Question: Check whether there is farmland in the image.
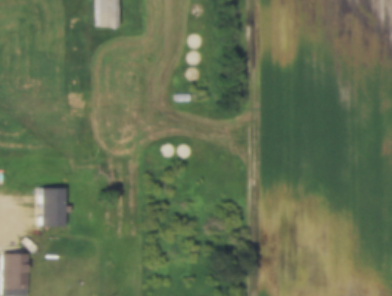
Yes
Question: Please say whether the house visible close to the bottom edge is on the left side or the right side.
left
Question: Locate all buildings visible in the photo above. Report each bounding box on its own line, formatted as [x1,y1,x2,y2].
[0,253,32,296]
[38,187,68,228]
[95,0,118,28]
